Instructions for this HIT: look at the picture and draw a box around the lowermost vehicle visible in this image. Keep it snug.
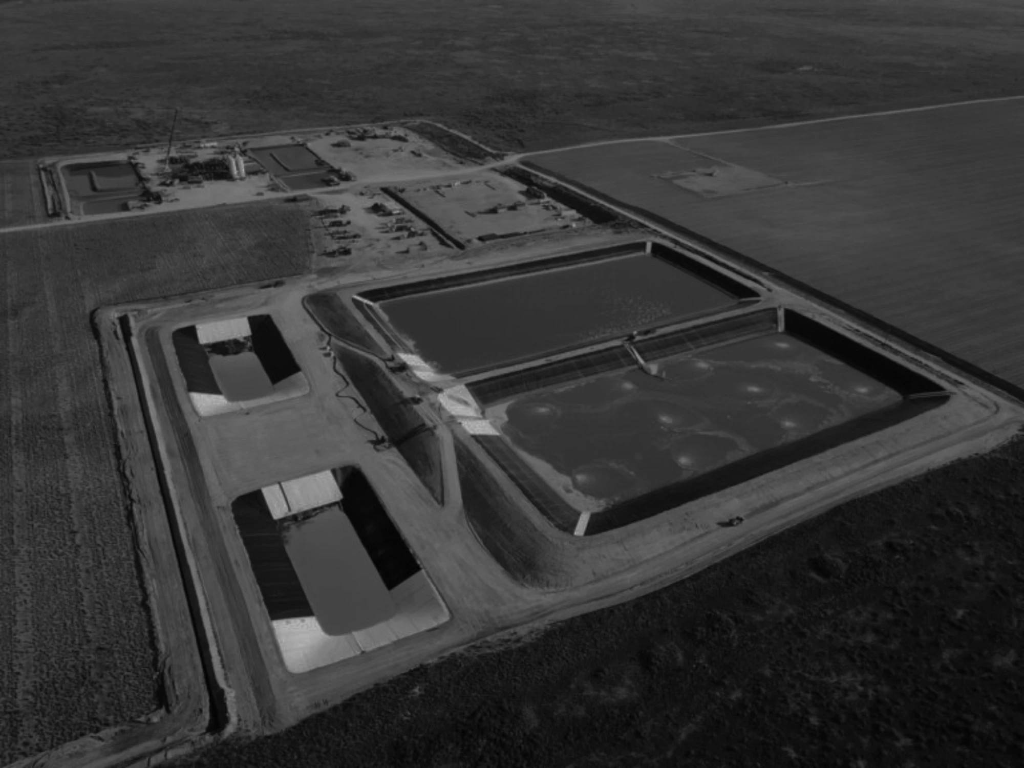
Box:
[730,514,744,528]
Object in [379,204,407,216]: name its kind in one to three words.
vehicle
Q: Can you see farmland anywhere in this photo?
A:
Yes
